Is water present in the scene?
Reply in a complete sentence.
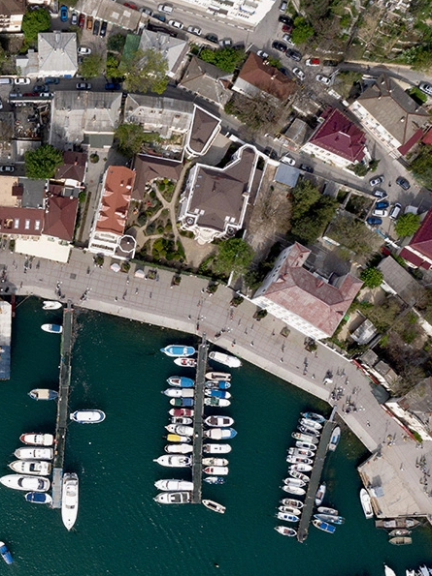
Yes, there is water in the image.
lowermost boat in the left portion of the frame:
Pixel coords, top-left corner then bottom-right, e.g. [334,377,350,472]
[0,544,15,567]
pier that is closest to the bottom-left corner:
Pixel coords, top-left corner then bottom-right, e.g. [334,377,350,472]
[51,469,64,509]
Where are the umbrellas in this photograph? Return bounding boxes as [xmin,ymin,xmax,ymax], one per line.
[137,268,147,278]
[112,262,122,272]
